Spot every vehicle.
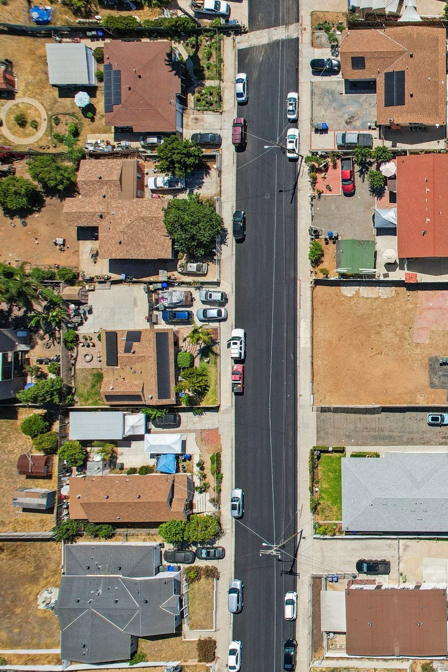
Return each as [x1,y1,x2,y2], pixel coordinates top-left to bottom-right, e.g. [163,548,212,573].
[231,116,249,147]
[230,488,246,518]
[162,310,195,324]
[340,157,355,194]
[177,262,209,275]
[234,73,250,104]
[286,92,300,121]
[336,131,374,146]
[147,175,186,190]
[228,578,244,614]
[195,547,227,561]
[197,308,229,322]
[355,560,390,576]
[198,289,228,304]
[223,327,246,360]
[310,57,339,72]
[283,590,299,622]
[231,209,247,239]
[283,637,298,671]
[230,361,246,393]
[228,639,243,672]
[190,131,222,146]
[164,550,196,565]
[190,0,231,15]
[149,413,182,428]
[286,129,300,159]
[426,413,448,427]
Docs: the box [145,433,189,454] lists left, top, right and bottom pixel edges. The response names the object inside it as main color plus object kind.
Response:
white tent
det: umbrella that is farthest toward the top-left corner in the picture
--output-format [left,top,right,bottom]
[75,92,94,108]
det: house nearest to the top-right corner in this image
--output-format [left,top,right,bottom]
[338,25,446,125]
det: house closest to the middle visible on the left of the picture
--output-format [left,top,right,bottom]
[99,329,183,405]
